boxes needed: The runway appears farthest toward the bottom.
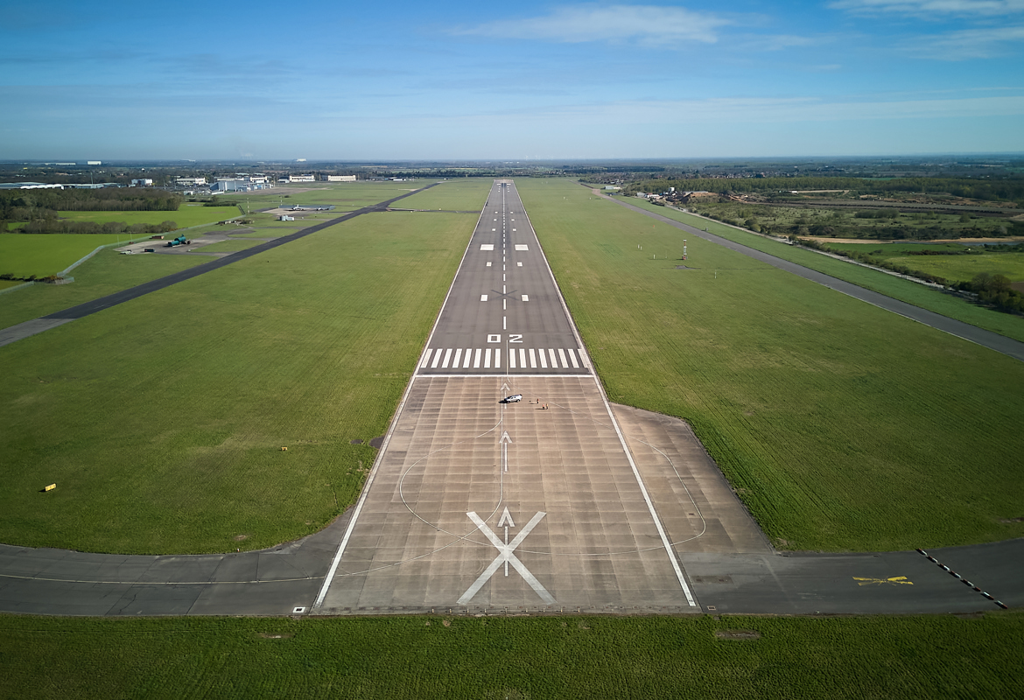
[306,376,709,615]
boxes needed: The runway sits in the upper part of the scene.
[410,181,602,376]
